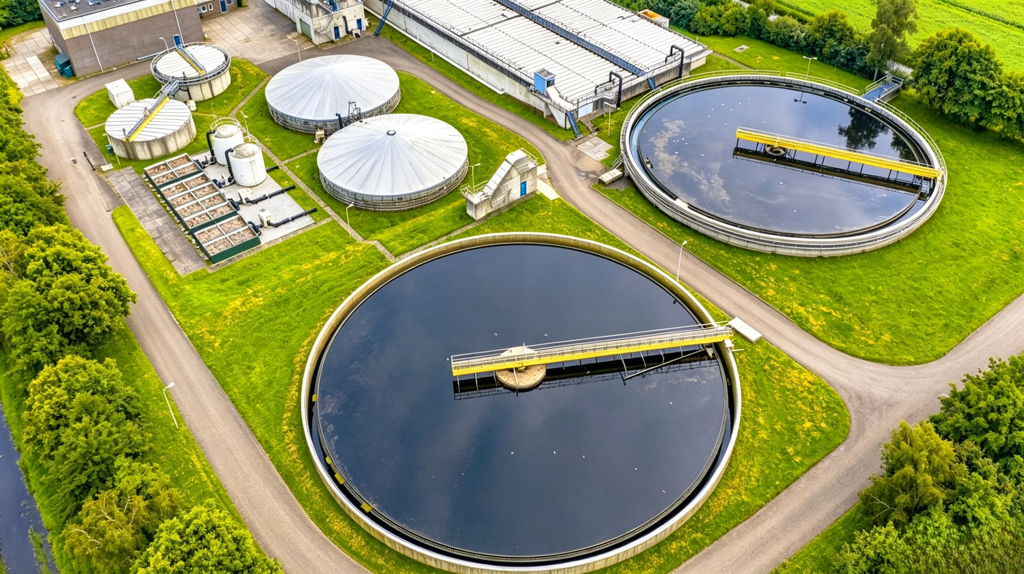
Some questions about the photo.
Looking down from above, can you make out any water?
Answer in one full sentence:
Yes, there is water in the image.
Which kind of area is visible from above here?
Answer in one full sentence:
What you see here is an industrial area.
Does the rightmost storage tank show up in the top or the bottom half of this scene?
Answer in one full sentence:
Seen from above, the rightmost storage tank lies in the top half of the view.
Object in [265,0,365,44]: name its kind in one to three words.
building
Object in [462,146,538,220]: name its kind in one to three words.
building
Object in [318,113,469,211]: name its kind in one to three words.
storage tank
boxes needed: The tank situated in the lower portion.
[300,232,742,574]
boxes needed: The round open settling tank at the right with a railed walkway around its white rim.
[622,70,948,257]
